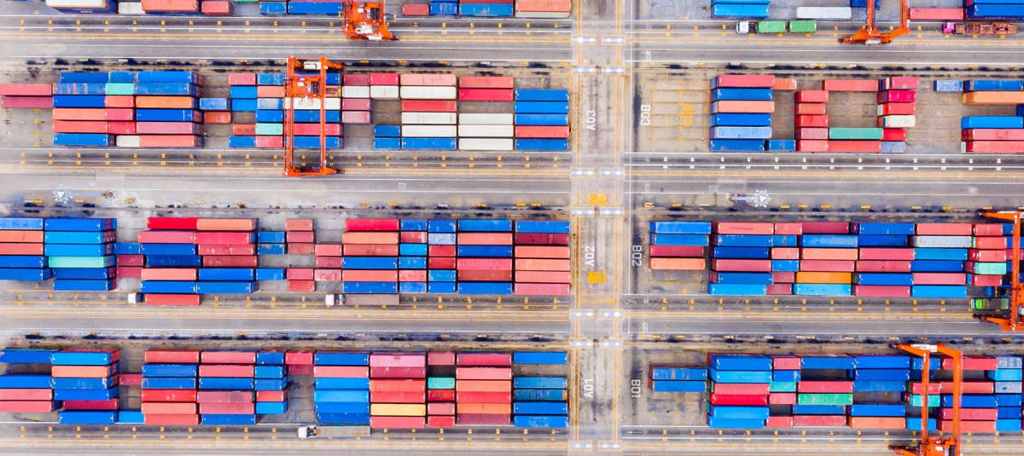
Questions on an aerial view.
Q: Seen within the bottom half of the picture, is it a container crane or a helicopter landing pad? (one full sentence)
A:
There is a container crane within the bottom half of the picture.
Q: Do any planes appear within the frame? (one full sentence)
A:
No, this view has no plane in it.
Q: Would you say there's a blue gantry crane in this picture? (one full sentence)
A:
No, there's no blue gantry crane here.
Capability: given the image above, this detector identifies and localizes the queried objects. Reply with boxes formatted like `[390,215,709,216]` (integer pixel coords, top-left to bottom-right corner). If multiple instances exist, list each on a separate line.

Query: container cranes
[831,0,914,47]
[878,343,965,456]
[337,0,407,43]
[965,211,1024,330]
[282,54,353,175]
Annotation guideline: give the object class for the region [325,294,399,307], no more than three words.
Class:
vehicle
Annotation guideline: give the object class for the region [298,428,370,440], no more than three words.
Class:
vehicle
